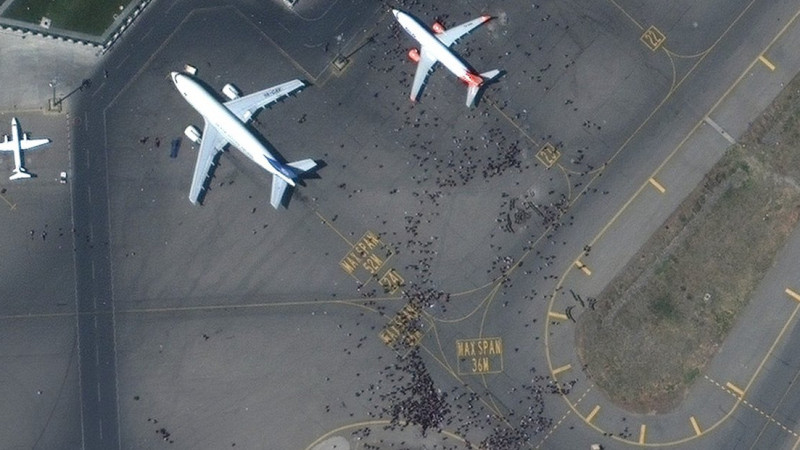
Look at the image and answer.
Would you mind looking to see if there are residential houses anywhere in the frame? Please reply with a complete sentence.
No, the frame has no residential house in it.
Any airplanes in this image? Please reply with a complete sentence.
Yes, an airplane appears in the view.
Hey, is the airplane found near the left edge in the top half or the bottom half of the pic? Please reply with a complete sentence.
The airplane found near the left edge sits in the top half of the picture.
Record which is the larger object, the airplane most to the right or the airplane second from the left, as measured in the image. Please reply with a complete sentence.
Compared with the airplane most to the right, the airplane second from the left is the larger one.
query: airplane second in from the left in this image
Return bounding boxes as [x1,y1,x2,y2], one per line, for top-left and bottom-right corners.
[171,73,318,209]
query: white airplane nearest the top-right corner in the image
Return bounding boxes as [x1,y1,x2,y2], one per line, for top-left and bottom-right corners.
[392,9,503,105]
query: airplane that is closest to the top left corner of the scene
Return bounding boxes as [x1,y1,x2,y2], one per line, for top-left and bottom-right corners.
[0,118,49,179]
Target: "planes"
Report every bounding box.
[0,118,49,179]
[392,9,503,105]
[171,73,318,209]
